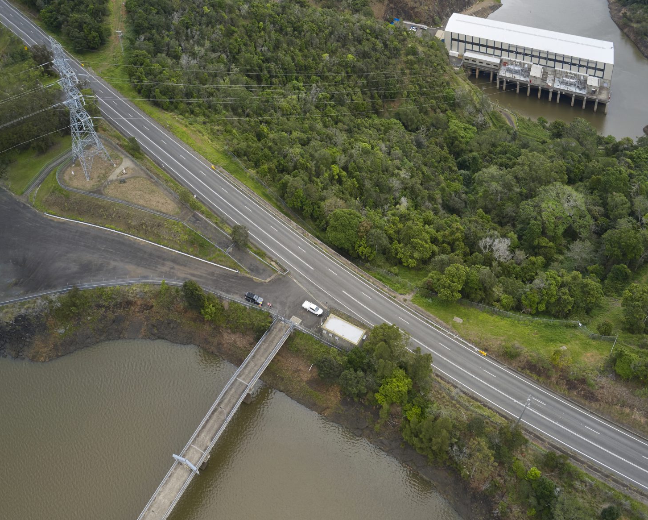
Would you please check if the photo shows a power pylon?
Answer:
Yes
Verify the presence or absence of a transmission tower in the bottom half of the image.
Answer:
No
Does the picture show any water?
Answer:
Yes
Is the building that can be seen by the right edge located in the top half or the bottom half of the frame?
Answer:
top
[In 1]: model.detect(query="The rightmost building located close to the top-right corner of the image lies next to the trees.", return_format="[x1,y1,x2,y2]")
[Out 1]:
[447,13,618,115]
